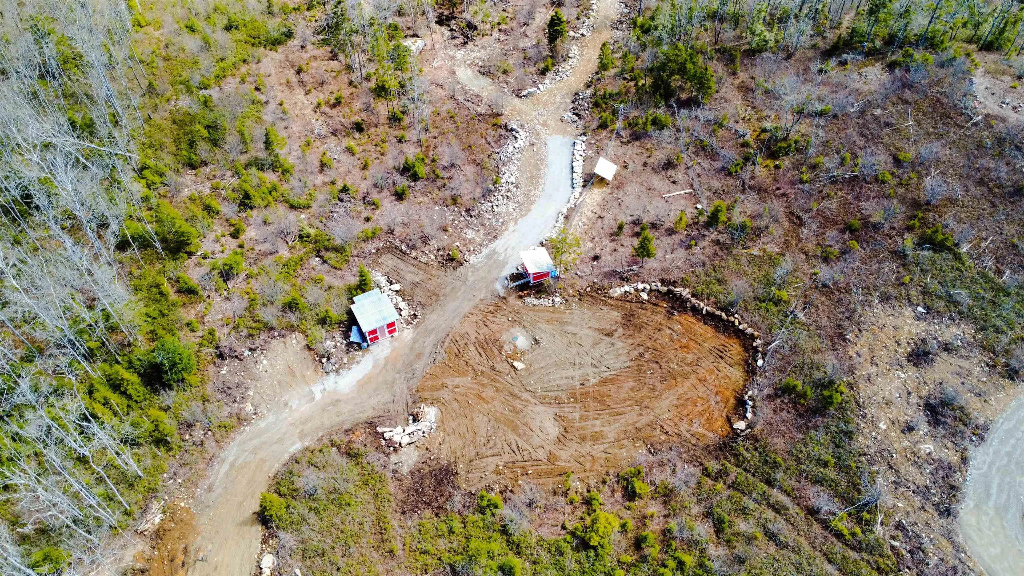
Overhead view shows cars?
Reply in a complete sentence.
No, the scene contains no car.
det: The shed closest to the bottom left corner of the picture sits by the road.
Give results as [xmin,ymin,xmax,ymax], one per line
[354,290,402,344]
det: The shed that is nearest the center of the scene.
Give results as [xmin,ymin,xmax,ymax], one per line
[522,245,557,286]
